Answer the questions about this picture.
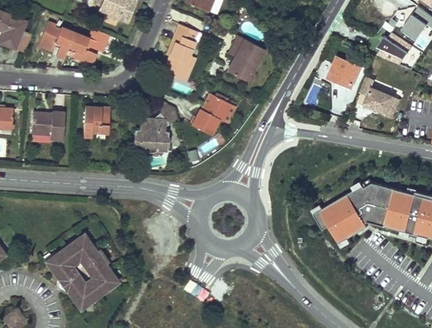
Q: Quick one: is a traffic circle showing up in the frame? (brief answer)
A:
Yes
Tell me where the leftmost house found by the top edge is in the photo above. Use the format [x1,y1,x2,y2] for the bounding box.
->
[0,10,32,52]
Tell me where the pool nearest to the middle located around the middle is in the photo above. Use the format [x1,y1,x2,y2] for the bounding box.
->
[198,134,223,159]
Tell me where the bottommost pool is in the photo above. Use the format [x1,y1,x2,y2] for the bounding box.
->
[151,152,170,170]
